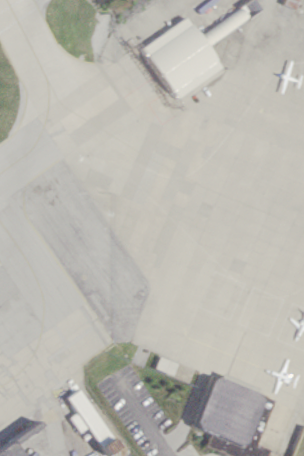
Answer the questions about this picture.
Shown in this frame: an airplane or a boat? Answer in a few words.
airplane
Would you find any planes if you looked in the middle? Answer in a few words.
No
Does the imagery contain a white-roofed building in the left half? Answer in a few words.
Yes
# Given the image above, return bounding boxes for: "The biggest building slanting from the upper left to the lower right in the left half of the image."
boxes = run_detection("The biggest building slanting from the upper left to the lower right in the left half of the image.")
[66,390,116,442]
